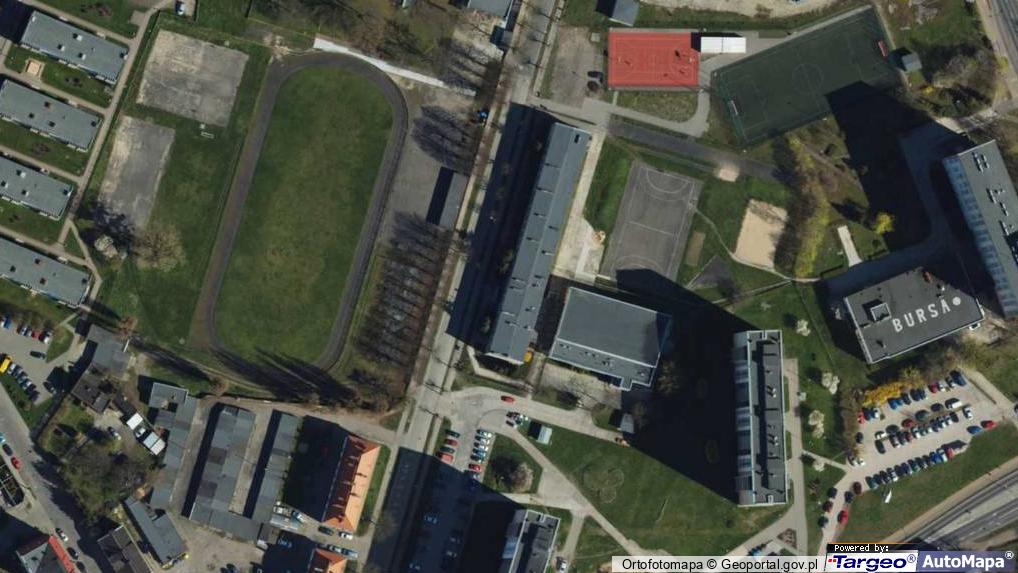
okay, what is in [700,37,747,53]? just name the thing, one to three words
building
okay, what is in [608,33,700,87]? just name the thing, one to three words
basketball court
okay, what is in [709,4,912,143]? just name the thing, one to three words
soccer field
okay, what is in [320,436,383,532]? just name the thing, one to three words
house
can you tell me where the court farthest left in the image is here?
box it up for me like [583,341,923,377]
[97,116,173,229]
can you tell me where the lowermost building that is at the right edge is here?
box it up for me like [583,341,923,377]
[842,267,984,362]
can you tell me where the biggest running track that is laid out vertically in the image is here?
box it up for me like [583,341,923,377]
[190,51,407,383]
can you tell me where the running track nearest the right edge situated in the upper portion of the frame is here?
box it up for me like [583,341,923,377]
[606,120,789,184]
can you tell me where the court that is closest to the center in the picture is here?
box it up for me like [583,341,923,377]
[600,161,703,286]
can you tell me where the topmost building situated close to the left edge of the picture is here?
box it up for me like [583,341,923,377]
[20,11,128,83]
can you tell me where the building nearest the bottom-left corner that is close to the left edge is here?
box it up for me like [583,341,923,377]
[15,533,77,573]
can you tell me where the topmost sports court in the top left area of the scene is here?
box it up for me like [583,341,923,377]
[138,32,249,124]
